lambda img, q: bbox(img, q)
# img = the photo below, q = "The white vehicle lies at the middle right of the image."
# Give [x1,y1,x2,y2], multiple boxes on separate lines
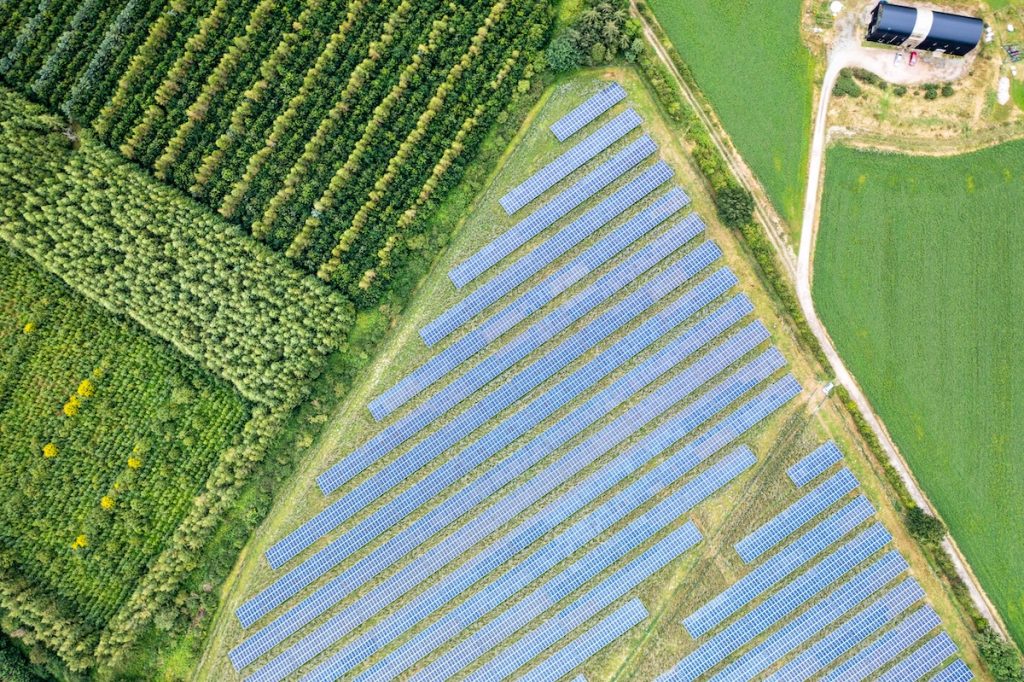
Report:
[822,382,835,395]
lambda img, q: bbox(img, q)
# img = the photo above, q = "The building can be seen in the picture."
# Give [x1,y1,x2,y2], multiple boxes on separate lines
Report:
[867,2,986,57]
